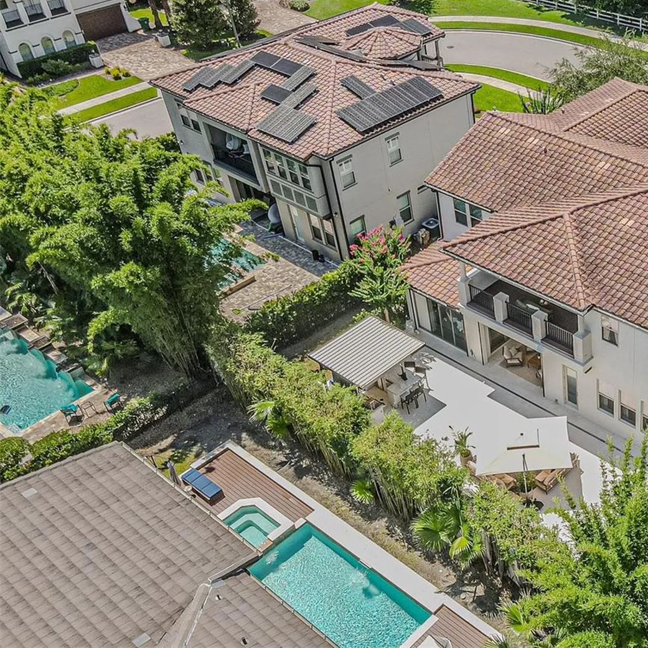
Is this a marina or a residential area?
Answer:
residential area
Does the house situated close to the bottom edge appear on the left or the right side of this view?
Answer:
left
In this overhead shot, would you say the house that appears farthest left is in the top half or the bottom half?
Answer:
top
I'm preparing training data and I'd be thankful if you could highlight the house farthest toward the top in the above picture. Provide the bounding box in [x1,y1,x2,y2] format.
[0,0,141,78]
